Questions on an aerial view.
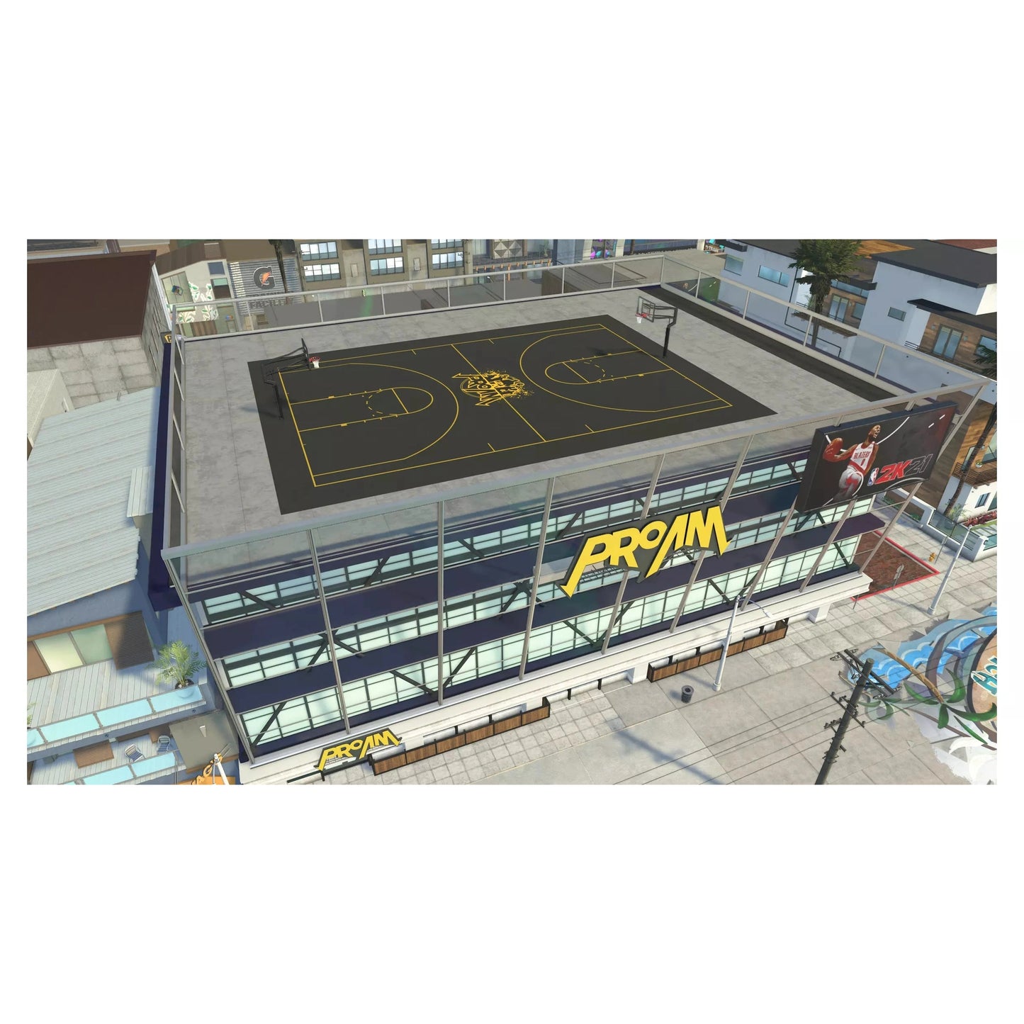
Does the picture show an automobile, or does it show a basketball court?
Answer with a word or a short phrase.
basketball court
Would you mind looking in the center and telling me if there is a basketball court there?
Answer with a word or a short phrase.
Yes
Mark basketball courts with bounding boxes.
[248,315,778,515]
